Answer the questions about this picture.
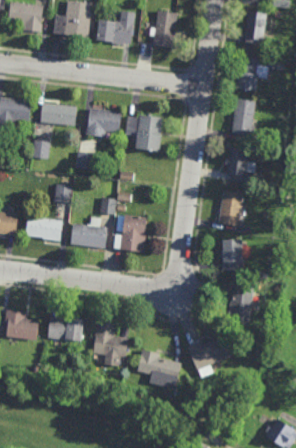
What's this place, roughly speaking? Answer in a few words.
residential area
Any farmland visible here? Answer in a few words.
No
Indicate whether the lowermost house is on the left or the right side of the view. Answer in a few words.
right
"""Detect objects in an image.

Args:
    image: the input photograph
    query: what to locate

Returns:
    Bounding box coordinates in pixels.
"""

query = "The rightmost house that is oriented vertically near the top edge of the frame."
[252,10,268,40]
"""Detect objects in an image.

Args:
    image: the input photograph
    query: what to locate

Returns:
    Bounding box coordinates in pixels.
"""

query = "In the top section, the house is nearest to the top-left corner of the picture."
[10,0,43,32]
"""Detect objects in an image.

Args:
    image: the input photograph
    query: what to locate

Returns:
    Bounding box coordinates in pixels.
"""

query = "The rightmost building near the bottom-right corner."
[274,424,296,448]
